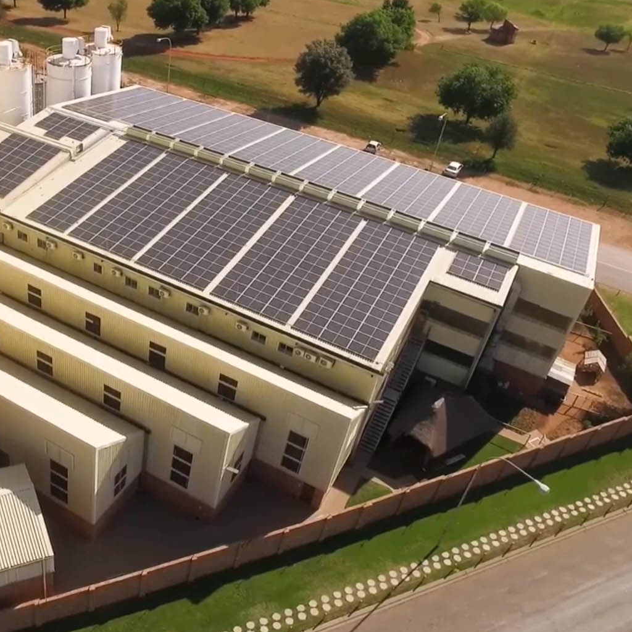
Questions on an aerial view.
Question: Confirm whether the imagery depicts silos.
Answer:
Yes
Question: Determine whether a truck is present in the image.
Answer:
No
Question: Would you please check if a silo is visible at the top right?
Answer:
No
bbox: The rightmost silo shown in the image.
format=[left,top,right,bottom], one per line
[89,25,123,94]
